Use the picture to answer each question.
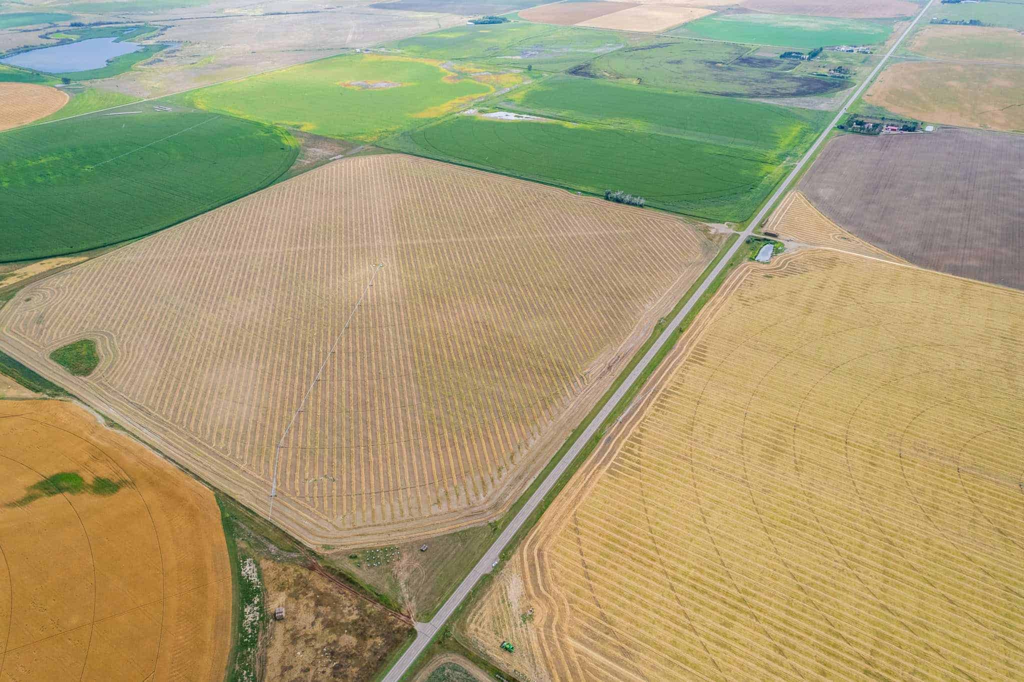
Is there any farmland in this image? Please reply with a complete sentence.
Yes, some farmland is visible.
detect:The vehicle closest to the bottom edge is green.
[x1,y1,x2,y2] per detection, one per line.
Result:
[497,639,514,652]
